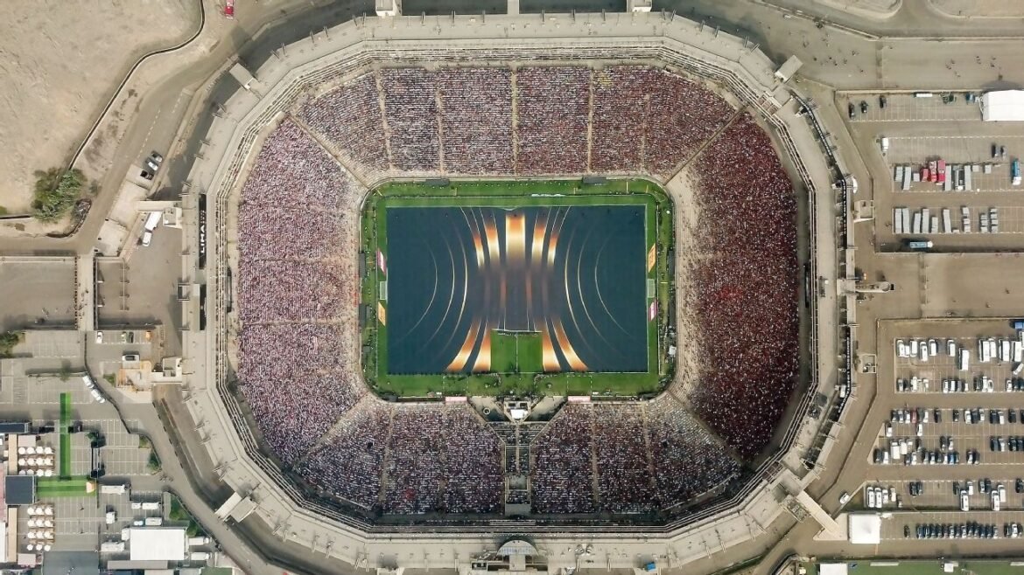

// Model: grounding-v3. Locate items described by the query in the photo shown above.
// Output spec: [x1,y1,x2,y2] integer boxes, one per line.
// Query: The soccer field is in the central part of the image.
[361,179,674,401]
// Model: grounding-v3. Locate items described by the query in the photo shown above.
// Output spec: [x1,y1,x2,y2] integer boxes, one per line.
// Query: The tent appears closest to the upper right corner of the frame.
[980,91,1024,122]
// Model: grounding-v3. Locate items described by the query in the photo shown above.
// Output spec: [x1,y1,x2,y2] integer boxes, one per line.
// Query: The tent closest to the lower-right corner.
[847,513,881,544]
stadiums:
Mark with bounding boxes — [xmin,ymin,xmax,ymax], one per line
[162,0,879,575]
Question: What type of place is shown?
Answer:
sports ground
